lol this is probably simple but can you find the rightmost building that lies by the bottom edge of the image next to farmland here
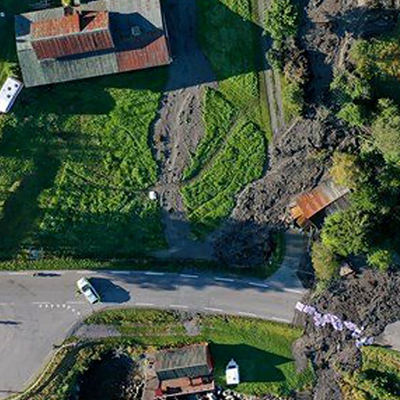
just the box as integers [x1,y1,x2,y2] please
[150,335,216,400]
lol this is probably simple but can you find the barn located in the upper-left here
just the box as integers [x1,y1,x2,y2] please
[13,0,172,87]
